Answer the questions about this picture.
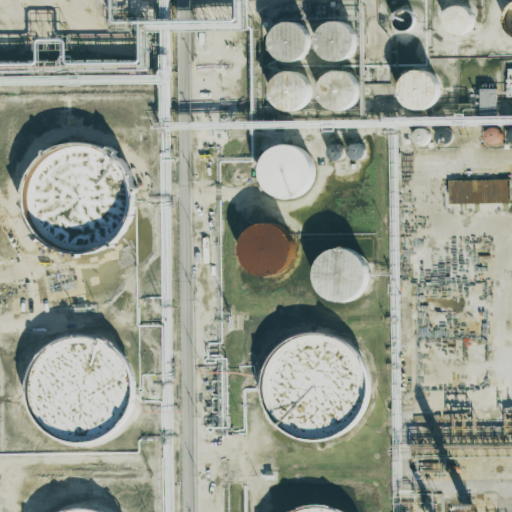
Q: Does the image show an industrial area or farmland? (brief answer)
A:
industrial area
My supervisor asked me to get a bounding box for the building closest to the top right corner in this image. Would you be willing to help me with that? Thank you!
[480,86,498,109]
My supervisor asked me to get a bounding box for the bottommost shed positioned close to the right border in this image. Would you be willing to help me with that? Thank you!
[448,180,510,204]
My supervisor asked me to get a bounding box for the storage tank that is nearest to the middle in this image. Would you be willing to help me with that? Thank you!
[237,222,296,278]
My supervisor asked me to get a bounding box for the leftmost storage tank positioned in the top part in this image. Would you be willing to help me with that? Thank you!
[22,143,134,254]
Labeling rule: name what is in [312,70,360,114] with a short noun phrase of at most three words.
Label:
storage tank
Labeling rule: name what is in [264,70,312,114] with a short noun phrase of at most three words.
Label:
storage tank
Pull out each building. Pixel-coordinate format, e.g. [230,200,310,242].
[480,86,498,109]
[448,180,510,204]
